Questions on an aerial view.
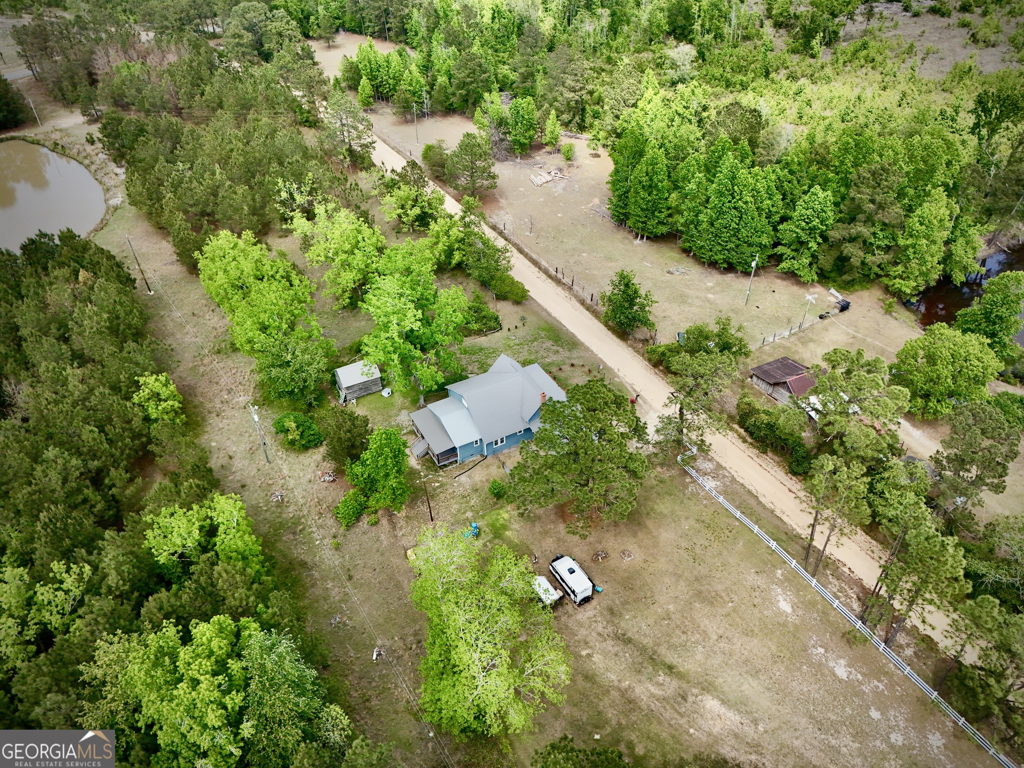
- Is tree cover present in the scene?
Yes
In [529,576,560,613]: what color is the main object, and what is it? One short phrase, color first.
white trailer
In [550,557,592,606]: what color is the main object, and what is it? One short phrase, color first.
white vehicle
